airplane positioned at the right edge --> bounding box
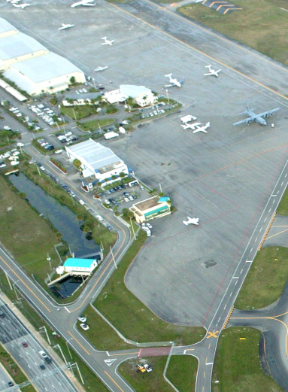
[234,98,283,124]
